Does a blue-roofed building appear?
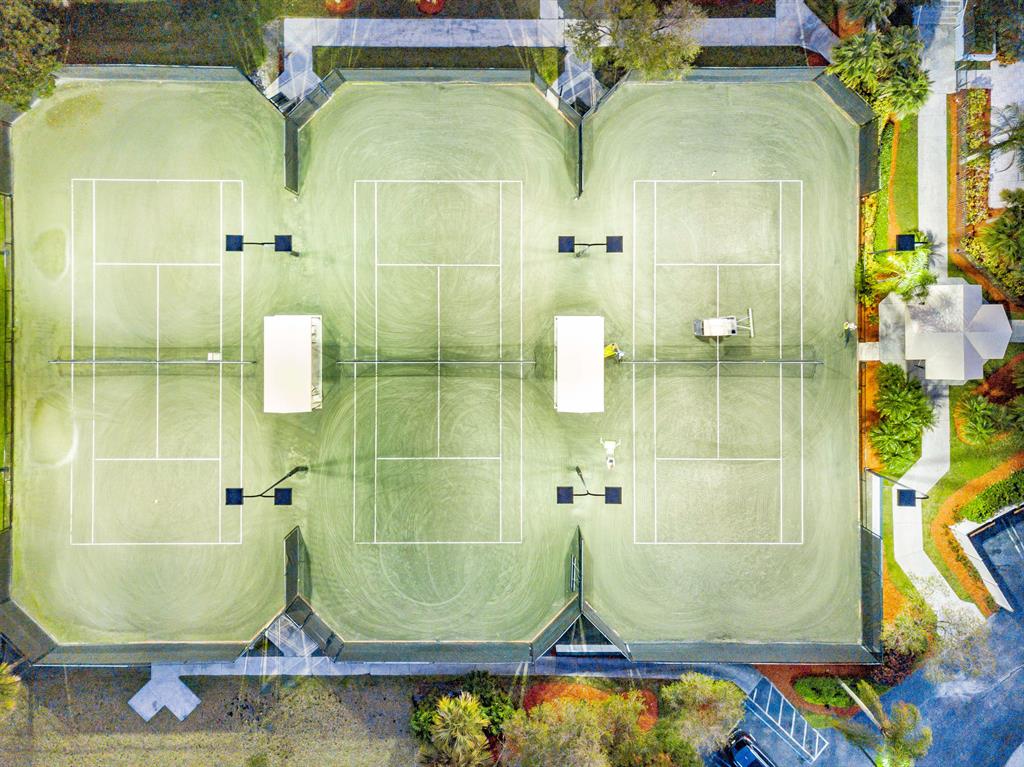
No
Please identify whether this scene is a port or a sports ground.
sports ground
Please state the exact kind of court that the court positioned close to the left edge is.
tennis court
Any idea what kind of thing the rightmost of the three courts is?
tennis court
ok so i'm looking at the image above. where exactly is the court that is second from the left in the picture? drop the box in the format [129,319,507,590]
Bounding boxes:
[302,84,580,642]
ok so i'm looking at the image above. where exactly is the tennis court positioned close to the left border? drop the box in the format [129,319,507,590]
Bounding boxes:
[9,81,302,644]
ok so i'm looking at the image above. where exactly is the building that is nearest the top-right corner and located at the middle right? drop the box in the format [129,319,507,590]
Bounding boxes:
[904,284,1012,380]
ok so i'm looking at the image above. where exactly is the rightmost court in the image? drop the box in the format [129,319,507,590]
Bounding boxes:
[580,82,862,643]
